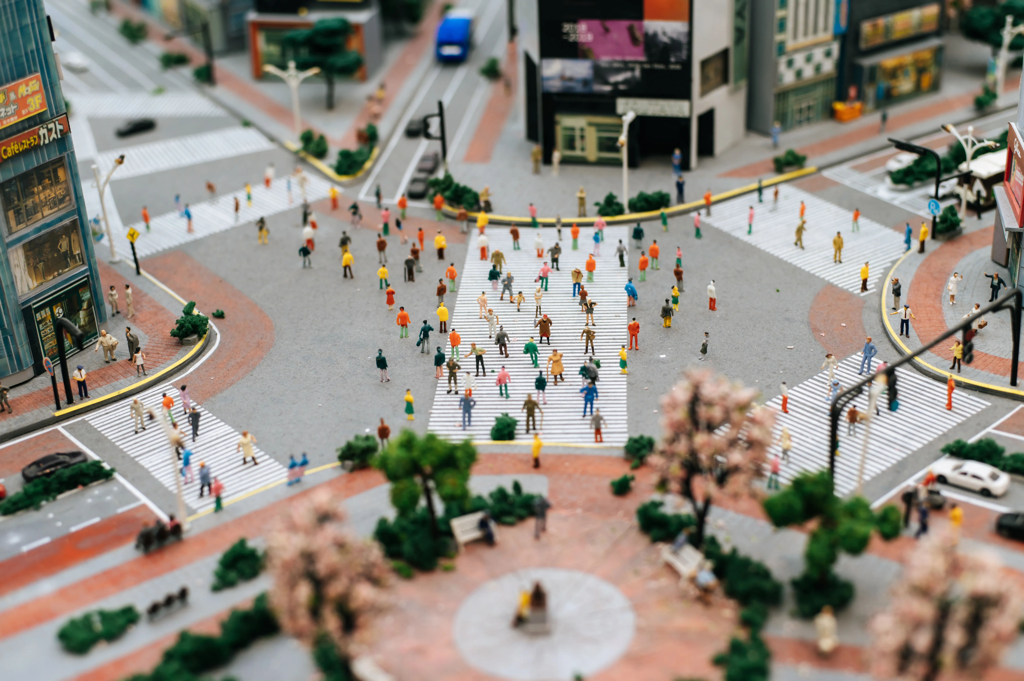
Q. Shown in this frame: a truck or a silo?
truck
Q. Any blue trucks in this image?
Yes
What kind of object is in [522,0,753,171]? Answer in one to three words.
building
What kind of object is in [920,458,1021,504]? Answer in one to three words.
car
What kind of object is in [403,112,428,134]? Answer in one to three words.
car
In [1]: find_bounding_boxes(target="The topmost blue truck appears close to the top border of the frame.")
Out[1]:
[437,11,472,58]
